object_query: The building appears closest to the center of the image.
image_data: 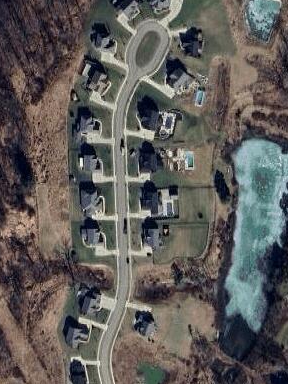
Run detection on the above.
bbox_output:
[139,186,161,214]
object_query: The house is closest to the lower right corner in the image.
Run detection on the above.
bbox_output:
[132,313,158,337]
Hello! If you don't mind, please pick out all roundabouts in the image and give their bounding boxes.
[128,20,170,75]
